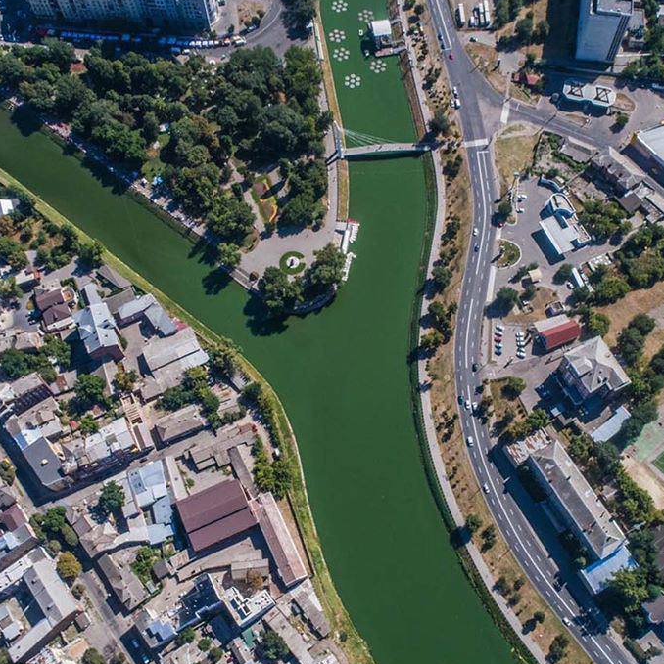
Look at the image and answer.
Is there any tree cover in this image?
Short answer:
Yes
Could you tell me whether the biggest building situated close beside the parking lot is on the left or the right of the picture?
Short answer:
right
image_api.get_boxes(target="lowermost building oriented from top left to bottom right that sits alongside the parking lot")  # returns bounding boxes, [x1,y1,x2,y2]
[526,440,626,563]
